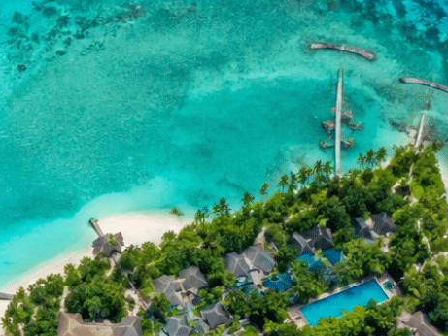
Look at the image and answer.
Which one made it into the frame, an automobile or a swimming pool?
swimming pool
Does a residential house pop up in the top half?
No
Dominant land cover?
water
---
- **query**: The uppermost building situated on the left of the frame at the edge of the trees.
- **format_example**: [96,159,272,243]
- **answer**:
[91,235,122,261]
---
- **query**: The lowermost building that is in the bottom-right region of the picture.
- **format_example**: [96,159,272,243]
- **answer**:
[390,314,439,336]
